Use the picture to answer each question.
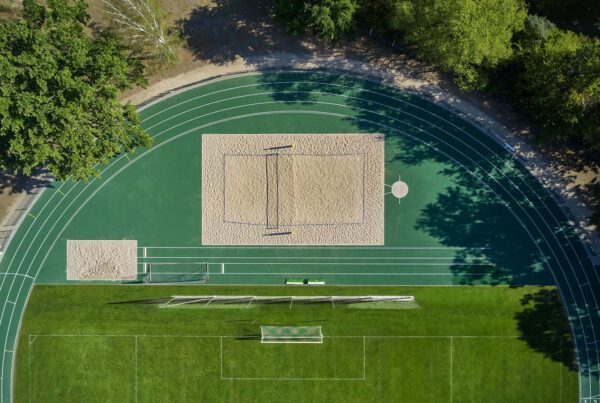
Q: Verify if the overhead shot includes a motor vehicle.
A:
No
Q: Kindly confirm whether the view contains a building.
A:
No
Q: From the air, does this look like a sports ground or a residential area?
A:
sports ground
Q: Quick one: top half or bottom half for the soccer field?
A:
bottom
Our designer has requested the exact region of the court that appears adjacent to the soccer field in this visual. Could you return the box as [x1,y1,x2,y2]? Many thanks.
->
[202,134,385,245]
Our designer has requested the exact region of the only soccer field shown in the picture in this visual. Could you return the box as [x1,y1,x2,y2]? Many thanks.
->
[29,336,562,403]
